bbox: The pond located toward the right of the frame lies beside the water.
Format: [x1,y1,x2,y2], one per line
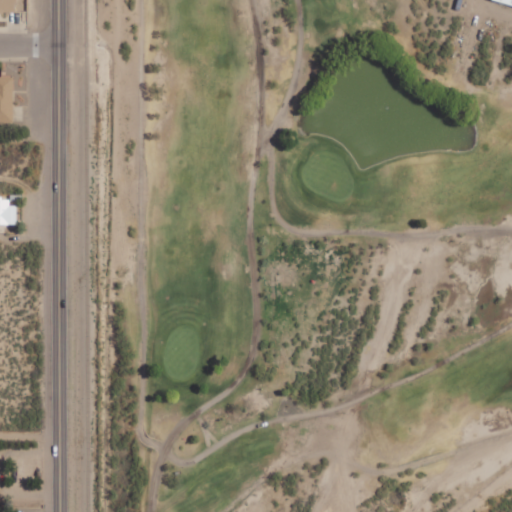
[299,46,476,168]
